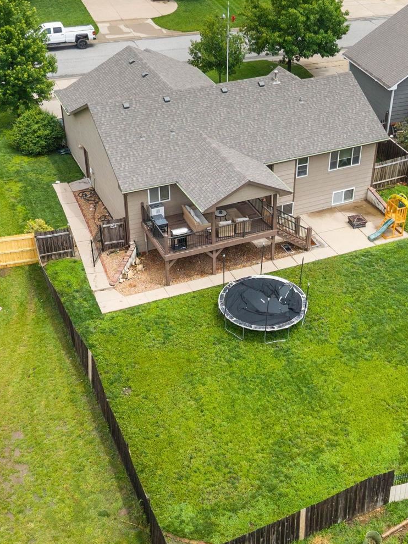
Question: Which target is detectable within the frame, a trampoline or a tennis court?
trampoline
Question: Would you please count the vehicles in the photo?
1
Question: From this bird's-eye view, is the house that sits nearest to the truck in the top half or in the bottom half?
top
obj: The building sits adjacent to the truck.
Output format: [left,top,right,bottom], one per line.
[49,48,389,249]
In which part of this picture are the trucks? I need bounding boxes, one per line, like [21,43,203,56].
[29,22,92,52]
